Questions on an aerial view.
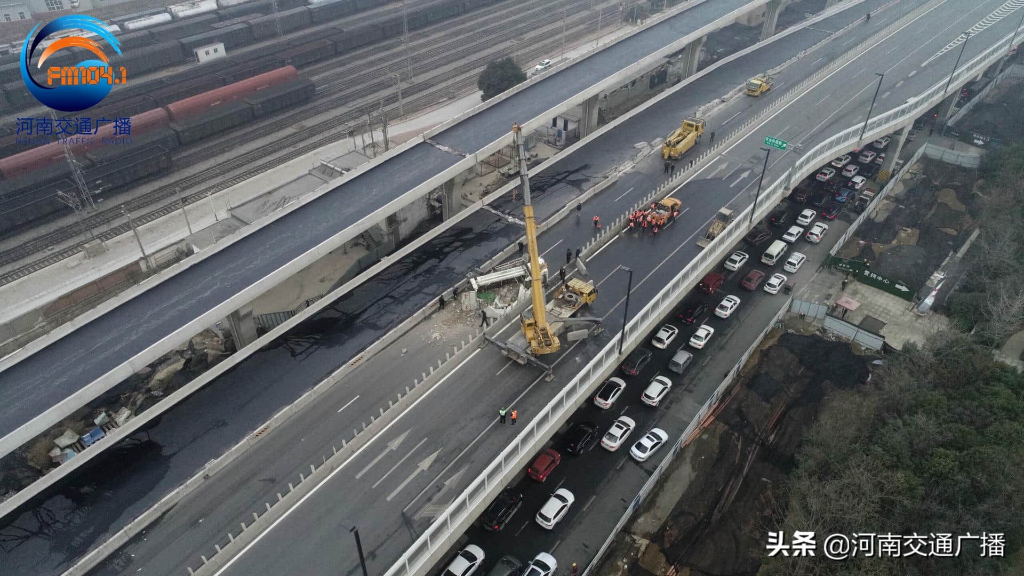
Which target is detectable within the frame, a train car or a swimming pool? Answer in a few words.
train car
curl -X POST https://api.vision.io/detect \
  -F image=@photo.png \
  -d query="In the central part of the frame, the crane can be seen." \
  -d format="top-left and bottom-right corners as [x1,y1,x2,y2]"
[479,117,606,381]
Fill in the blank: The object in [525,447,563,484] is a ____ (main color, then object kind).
red car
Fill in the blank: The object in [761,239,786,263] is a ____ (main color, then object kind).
white car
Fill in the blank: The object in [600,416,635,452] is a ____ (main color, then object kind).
white car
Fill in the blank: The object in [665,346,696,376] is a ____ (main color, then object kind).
gray car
